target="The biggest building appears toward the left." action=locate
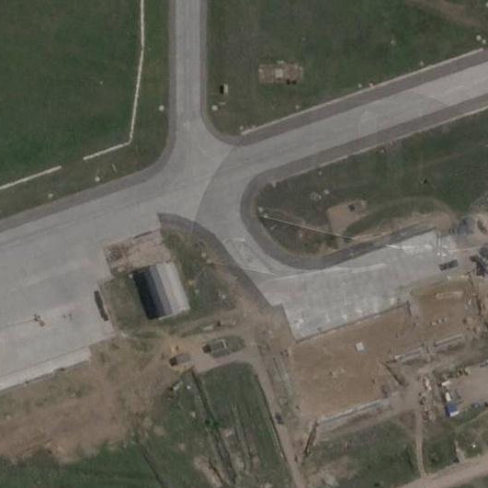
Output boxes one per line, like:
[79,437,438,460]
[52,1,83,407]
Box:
[143,262,190,320]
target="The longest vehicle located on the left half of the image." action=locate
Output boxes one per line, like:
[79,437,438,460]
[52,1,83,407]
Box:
[93,291,109,321]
